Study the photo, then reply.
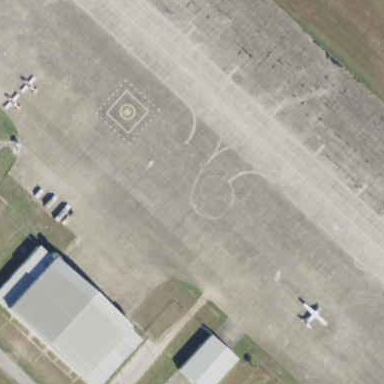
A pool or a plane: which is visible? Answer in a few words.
plane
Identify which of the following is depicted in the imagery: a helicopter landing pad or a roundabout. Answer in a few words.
helicopter landing pad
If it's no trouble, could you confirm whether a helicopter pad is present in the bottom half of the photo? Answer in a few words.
No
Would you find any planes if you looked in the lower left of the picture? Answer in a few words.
No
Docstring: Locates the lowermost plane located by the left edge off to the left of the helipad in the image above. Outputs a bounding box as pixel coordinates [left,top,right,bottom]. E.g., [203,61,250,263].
[6,95,20,110]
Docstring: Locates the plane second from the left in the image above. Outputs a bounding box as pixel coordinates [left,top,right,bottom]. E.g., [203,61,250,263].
[22,78,37,94]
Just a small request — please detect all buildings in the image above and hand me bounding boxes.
[0,244,142,384]
[176,334,240,384]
